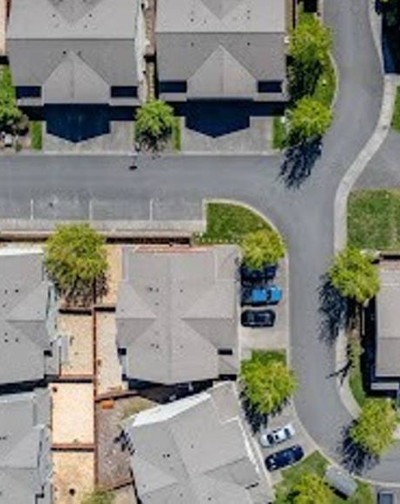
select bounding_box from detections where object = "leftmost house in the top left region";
[7,0,147,106]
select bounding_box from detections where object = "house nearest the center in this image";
[118,243,239,382]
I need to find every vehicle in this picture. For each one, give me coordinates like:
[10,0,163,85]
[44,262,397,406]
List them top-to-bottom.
[241,264,277,282]
[242,288,282,304]
[239,309,275,327]
[259,421,297,447]
[266,444,306,470]
[376,487,393,504]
